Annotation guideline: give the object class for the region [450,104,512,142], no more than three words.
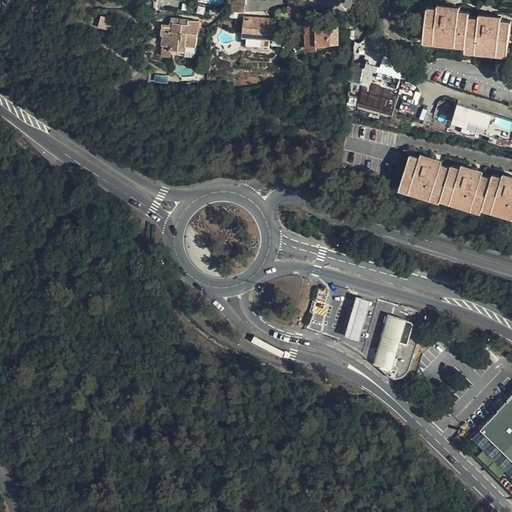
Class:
building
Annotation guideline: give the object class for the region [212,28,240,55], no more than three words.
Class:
swimming pool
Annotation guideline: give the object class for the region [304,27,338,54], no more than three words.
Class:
house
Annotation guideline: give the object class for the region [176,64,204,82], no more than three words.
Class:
swimming pool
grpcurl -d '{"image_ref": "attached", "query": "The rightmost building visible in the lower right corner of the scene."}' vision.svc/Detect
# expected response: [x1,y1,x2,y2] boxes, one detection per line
[472,395,512,483]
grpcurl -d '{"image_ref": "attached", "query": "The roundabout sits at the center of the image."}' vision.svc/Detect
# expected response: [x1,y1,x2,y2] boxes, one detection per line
[164,182,280,297]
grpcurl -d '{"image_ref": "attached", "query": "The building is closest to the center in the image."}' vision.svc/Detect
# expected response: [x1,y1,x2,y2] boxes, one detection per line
[345,296,372,342]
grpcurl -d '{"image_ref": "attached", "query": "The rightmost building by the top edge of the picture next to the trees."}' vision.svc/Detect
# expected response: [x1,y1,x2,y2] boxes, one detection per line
[420,6,512,60]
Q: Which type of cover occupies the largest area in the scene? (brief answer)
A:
trees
